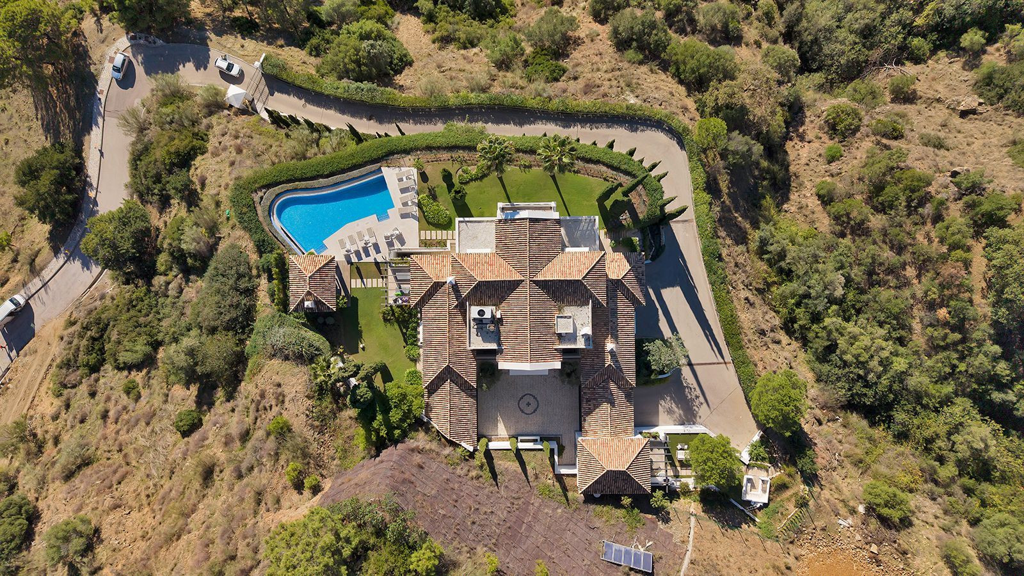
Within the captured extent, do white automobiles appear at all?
Yes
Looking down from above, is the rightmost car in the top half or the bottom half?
top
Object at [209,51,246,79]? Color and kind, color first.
white car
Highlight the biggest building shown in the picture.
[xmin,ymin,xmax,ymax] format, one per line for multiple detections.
[409,199,652,495]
